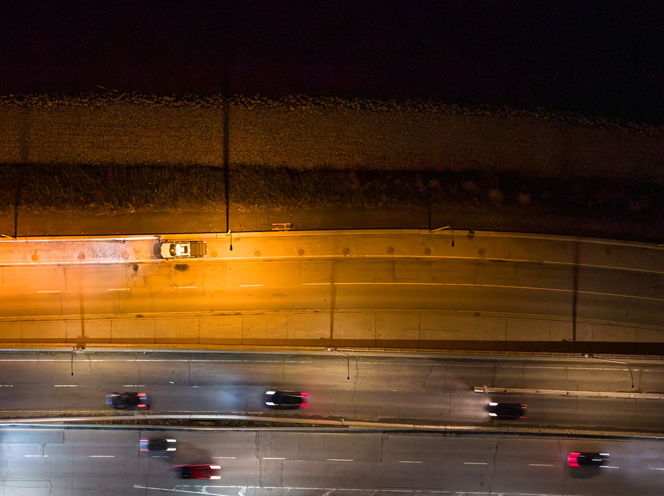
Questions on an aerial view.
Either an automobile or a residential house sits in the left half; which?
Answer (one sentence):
There is an automobile in the left half.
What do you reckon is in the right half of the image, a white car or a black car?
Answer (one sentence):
The one visible in the right half of the image is a black car.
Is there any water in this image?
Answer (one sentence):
Yes, water can be seen from above here.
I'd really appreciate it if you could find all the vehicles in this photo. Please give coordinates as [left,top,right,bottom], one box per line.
[568,452,606,468]
[180,464,219,482]
[108,392,145,409]
[141,437,175,454]
[267,391,307,409]
[161,241,207,260]
[489,403,526,419]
